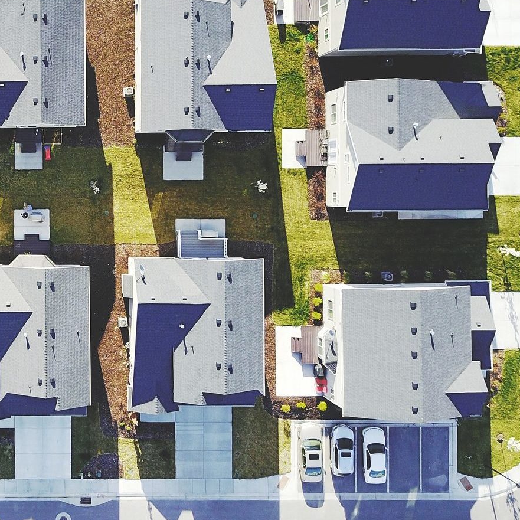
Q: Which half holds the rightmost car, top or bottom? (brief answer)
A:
bottom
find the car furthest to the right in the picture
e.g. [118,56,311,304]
[360,425,389,485]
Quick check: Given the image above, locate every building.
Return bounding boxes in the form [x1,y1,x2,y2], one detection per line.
[135,0,278,148]
[308,279,506,426]
[0,247,91,420]
[320,0,491,55]
[326,79,500,212]
[0,0,86,131]
[121,254,266,415]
